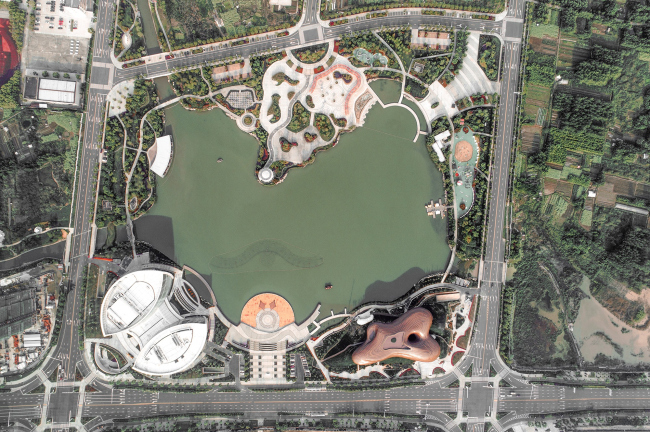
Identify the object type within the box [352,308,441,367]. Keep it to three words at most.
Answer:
building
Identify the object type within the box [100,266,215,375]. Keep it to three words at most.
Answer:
building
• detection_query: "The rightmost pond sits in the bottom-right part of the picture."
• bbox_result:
[574,276,650,362]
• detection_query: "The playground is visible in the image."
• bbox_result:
[453,127,477,216]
